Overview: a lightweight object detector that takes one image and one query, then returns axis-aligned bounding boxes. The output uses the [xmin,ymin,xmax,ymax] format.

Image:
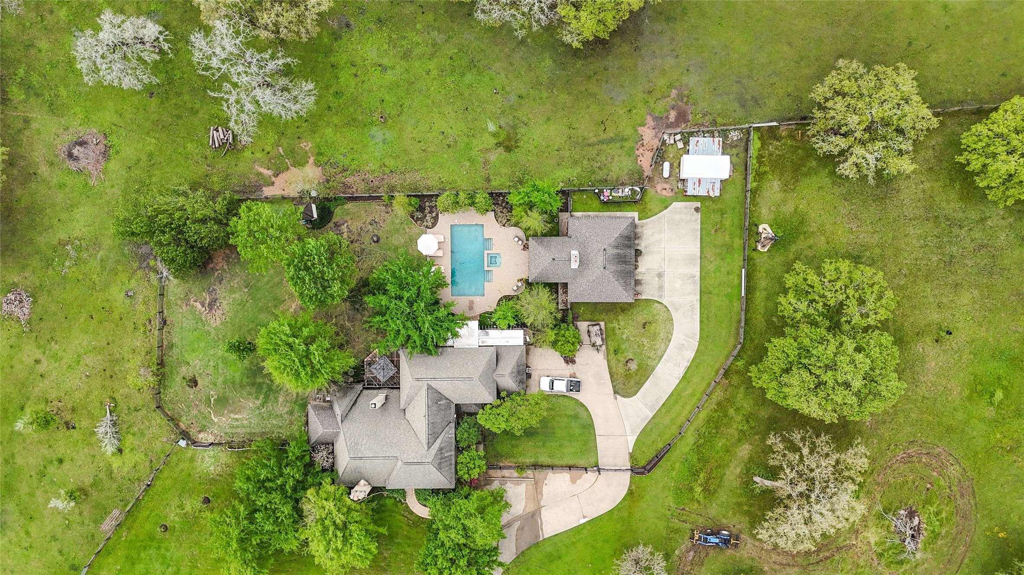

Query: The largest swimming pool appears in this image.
[449,223,505,298]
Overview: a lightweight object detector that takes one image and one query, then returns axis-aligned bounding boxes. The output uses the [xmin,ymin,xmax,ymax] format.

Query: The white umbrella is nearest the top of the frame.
[418,235,438,255]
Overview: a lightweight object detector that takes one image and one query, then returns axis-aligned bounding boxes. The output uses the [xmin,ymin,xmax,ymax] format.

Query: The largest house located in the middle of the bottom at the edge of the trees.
[308,345,526,502]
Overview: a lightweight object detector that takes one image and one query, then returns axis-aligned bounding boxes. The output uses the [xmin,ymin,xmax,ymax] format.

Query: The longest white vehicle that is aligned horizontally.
[539,377,582,394]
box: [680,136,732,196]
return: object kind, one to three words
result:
shed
